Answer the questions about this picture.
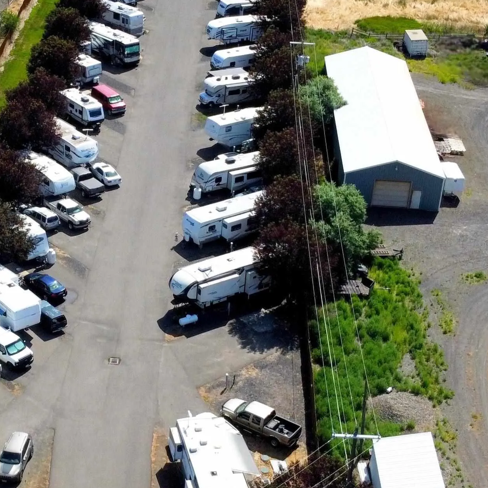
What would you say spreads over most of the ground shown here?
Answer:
paved ground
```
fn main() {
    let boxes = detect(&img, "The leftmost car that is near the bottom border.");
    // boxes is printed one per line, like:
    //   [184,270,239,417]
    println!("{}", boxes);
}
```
[0,428,34,483]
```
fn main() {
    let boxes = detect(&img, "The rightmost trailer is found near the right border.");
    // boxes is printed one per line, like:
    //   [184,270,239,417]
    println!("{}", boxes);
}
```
[444,163,467,206]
